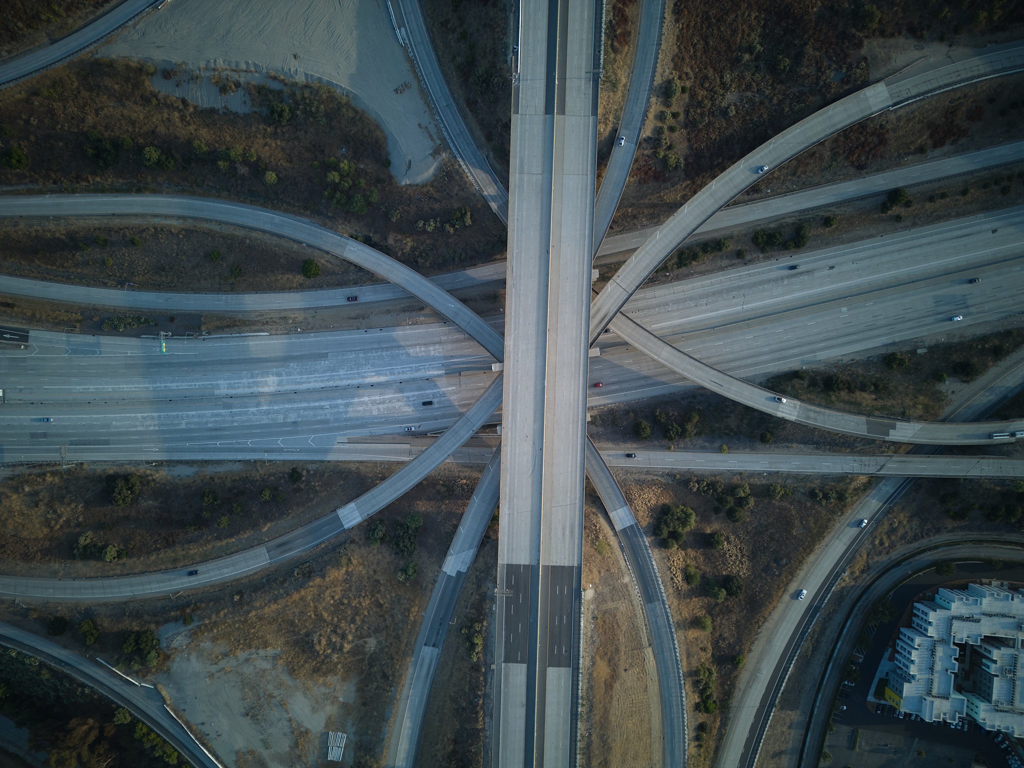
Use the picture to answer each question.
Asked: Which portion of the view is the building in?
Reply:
bottom right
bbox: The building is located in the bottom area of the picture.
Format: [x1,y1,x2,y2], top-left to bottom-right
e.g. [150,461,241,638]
[883,583,1024,737]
